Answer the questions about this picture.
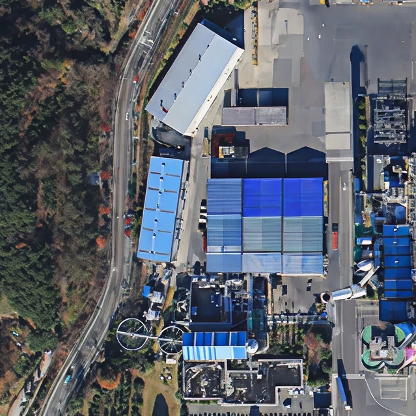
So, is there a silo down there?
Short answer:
Yes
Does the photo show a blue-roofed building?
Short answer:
Yes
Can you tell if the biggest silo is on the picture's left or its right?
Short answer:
right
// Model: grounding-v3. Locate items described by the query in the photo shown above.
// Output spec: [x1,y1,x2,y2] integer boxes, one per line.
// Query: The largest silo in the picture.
[362,327,406,371]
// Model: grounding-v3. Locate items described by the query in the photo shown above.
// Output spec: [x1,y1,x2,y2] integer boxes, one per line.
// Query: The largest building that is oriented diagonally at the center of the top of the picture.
[146,23,237,135]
